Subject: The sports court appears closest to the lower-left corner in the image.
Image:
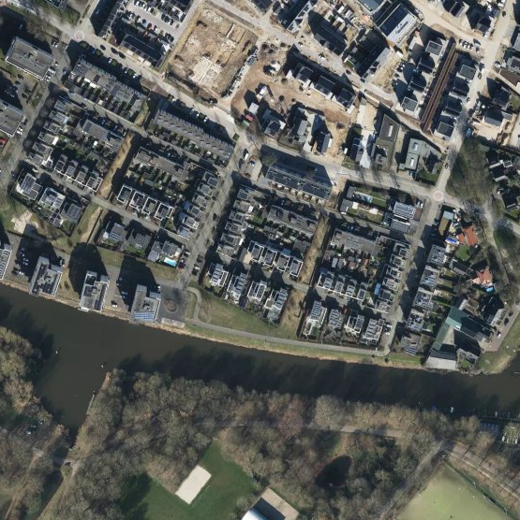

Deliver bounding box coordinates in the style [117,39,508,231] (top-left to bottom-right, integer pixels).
[175,465,211,505]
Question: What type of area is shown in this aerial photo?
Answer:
residential area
